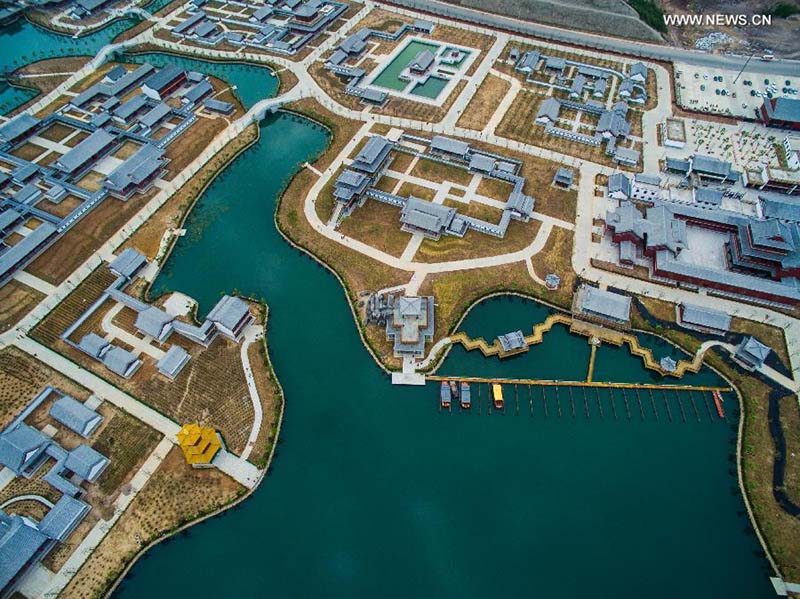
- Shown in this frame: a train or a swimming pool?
swimming pool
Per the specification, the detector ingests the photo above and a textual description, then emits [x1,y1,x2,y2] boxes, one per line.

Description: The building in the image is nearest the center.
[387,294,434,356]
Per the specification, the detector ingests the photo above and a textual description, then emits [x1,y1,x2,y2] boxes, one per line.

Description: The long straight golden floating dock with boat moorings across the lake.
[424,374,734,391]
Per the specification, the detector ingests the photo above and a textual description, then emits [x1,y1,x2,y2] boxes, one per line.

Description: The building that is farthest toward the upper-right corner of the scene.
[763,98,800,131]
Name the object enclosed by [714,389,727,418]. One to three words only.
boat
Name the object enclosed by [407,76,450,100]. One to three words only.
swimming pool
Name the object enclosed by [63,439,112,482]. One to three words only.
house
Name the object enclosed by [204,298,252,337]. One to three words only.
building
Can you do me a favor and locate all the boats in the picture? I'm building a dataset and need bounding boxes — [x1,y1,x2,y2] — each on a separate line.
[461,381,471,409]
[714,389,727,418]
[451,379,458,398]
[441,381,451,408]
[493,383,505,409]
